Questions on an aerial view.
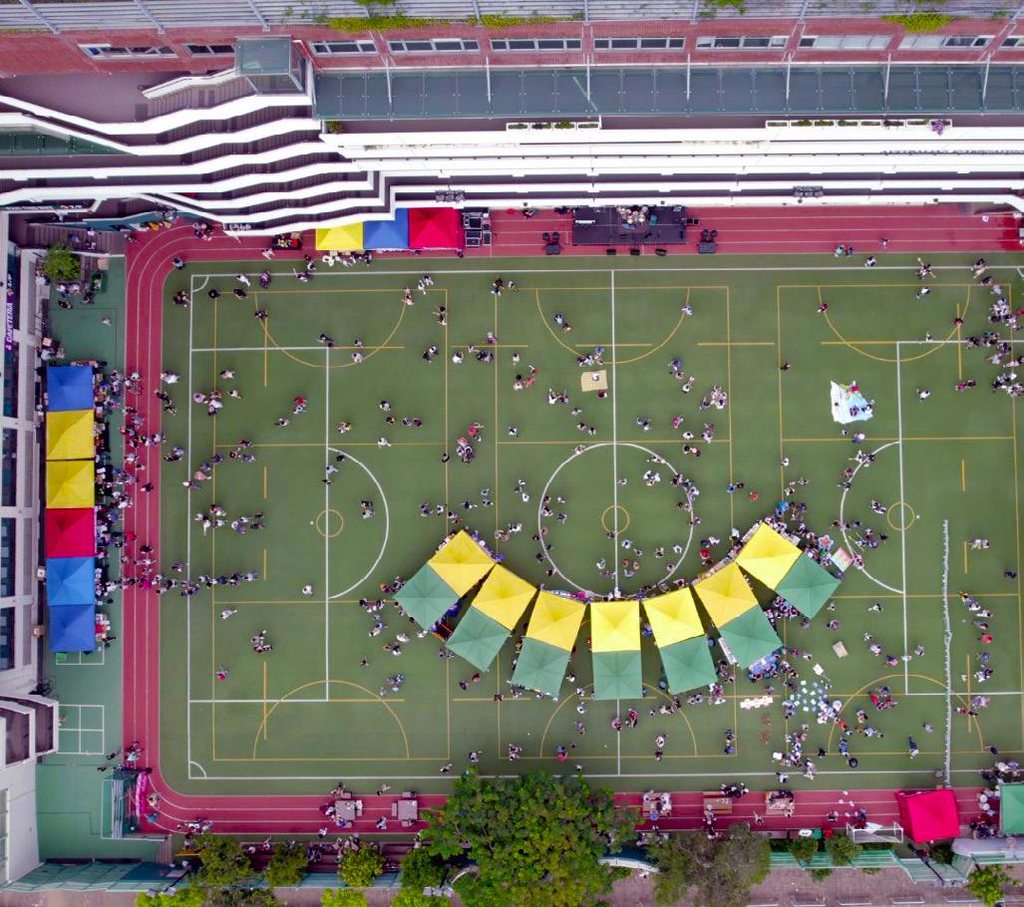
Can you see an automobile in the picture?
No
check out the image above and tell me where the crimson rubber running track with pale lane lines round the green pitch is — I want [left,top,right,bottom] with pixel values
[122,178,1024,835]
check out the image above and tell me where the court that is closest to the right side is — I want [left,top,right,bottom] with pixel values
[776,282,1024,757]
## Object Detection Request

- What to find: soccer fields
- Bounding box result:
[161,251,1024,797]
